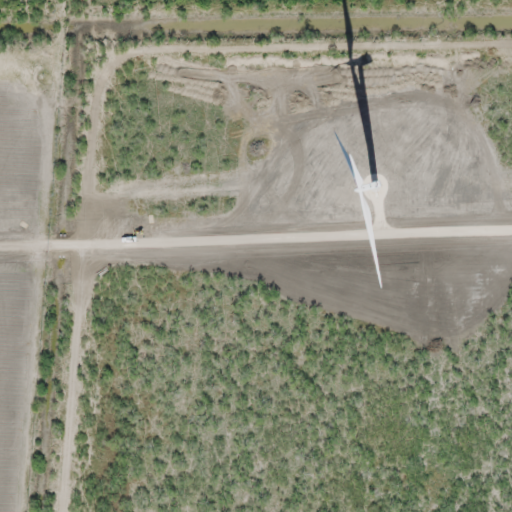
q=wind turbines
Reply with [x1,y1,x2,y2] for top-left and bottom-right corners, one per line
[335,134,382,286]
